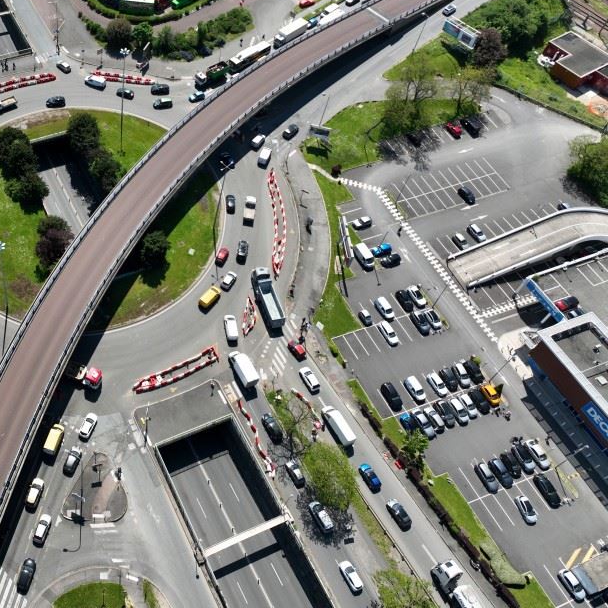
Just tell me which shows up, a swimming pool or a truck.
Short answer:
truck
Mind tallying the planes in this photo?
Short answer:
0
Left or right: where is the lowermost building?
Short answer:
right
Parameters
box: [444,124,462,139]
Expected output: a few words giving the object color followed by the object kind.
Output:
red car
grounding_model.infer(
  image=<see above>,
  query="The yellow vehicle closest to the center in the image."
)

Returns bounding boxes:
[199,288,220,308]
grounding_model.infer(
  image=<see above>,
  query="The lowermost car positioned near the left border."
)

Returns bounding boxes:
[17,558,36,594]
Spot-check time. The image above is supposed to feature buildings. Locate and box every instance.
[541,31,608,91]
[499,312,608,560]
